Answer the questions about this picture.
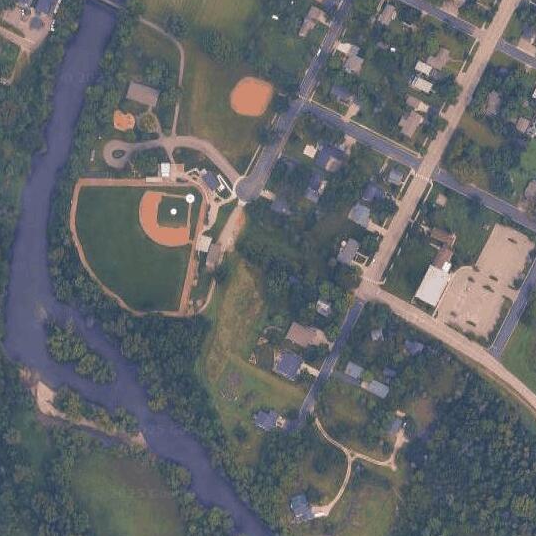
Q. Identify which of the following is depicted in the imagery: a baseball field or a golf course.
baseball field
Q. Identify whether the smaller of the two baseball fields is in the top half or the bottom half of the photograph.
top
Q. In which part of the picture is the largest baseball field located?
left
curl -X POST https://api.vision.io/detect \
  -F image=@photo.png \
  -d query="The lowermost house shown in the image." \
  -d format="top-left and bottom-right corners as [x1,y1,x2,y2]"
[290,495,312,522]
